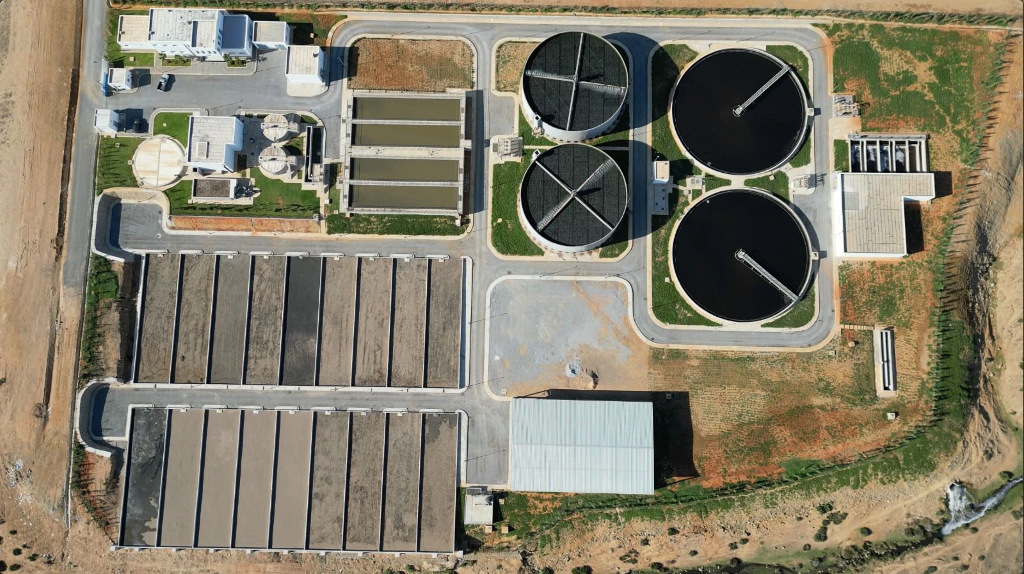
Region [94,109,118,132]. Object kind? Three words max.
building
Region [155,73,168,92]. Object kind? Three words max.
vehicle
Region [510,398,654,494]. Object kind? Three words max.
shed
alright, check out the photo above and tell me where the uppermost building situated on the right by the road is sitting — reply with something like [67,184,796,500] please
[834,94,860,116]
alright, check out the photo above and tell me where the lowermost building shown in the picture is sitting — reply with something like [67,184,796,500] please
[465,494,493,525]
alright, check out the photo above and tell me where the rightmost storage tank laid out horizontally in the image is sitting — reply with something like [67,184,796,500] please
[844,134,929,173]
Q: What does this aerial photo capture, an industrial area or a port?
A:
industrial area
